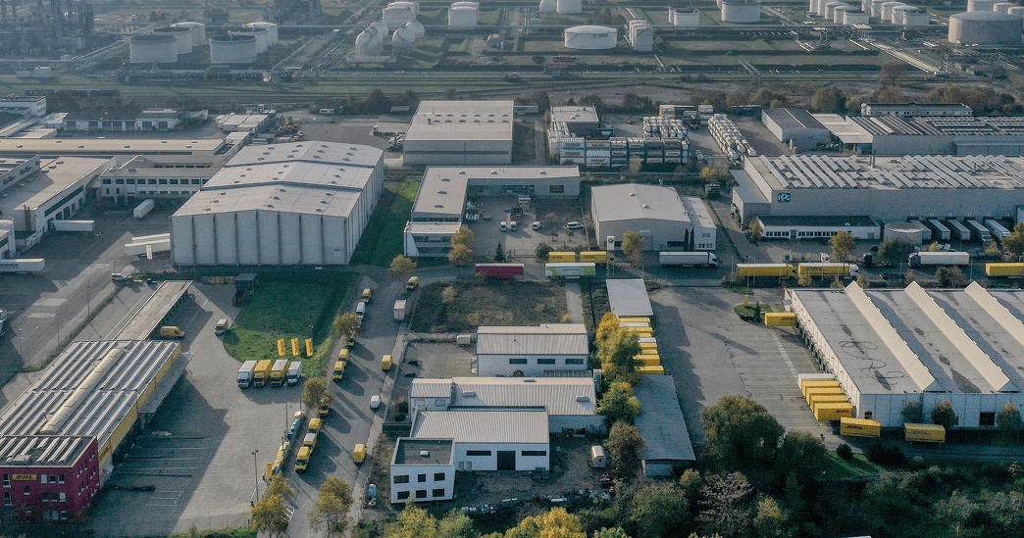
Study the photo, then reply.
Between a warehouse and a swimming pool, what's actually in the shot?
warehouse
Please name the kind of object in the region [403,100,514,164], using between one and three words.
building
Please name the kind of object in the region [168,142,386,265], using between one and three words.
warehouse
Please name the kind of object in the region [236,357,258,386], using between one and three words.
truck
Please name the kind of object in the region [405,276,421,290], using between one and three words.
vehicle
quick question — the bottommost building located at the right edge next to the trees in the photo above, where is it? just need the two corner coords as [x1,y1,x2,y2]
[785,281,1024,429]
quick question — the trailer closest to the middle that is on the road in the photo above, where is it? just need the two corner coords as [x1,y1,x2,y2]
[475,261,525,278]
